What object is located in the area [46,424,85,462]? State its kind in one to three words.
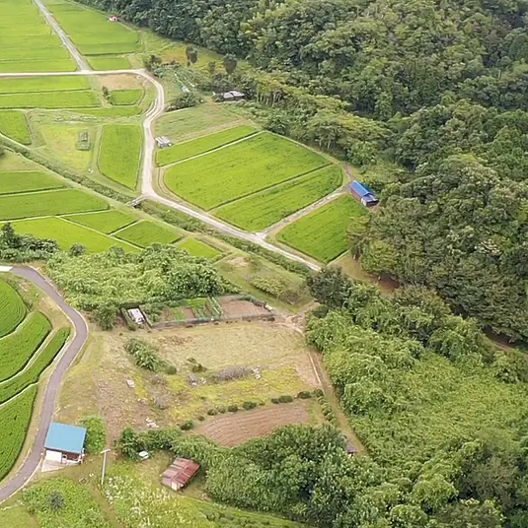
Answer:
building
